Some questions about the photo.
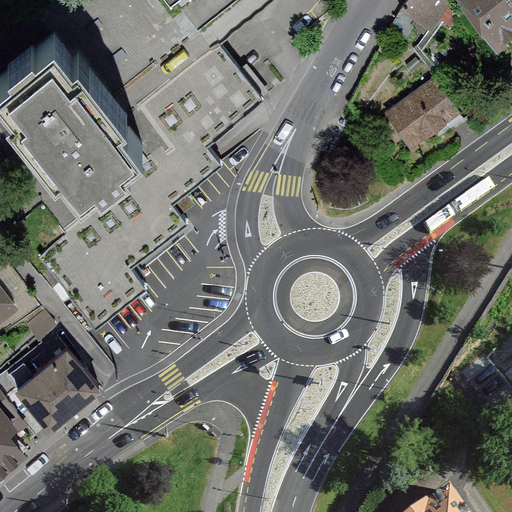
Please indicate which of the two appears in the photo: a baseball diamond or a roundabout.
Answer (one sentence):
This aerial view contains a roundabout.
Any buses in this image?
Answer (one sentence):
Yes, there is a bus in the image.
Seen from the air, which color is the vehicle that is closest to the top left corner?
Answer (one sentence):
The vehicle that is closest to the top left corner looks yellow in the image.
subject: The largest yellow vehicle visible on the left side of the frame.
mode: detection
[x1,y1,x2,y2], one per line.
[162,50,188,72]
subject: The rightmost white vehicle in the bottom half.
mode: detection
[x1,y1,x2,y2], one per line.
[326,329,349,346]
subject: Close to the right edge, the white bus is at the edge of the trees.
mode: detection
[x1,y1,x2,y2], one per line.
[421,175,496,232]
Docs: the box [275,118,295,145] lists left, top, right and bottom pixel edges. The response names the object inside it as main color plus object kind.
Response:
white vehicle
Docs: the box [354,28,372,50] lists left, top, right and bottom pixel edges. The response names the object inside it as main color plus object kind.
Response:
white car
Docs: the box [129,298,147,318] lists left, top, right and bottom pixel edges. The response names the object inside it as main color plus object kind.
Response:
red car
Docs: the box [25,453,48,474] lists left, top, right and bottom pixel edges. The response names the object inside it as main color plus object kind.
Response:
white vehicle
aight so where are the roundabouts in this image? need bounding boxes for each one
[246,228,384,366]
